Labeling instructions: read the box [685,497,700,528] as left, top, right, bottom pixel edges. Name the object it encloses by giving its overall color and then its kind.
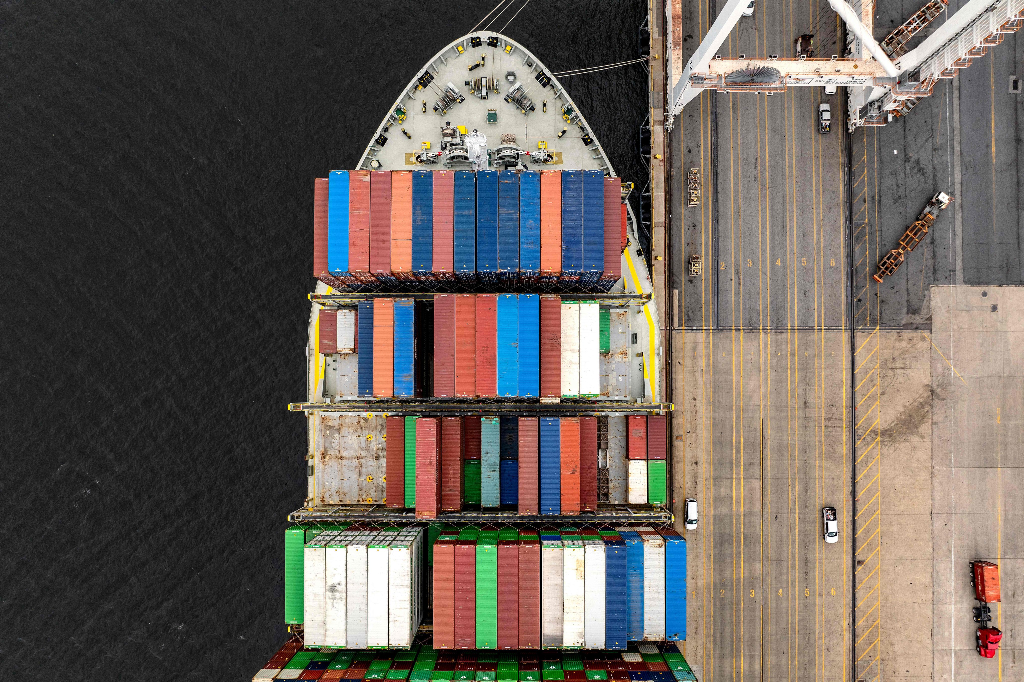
white vehicle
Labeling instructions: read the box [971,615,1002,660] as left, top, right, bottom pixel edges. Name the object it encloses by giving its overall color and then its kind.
red truck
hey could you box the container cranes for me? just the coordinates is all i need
[663,0,1024,142]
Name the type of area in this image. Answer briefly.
port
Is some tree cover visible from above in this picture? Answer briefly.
No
